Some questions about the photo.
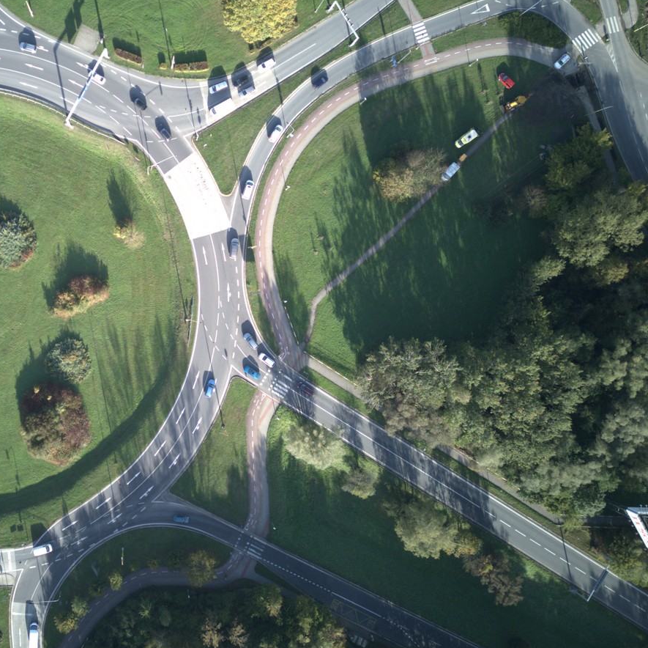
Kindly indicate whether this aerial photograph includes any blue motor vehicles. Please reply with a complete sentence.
Yes, the frame does contain a blue motor vehicle.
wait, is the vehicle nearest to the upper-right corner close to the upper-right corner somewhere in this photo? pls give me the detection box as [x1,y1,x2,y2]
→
[554,52,574,69]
